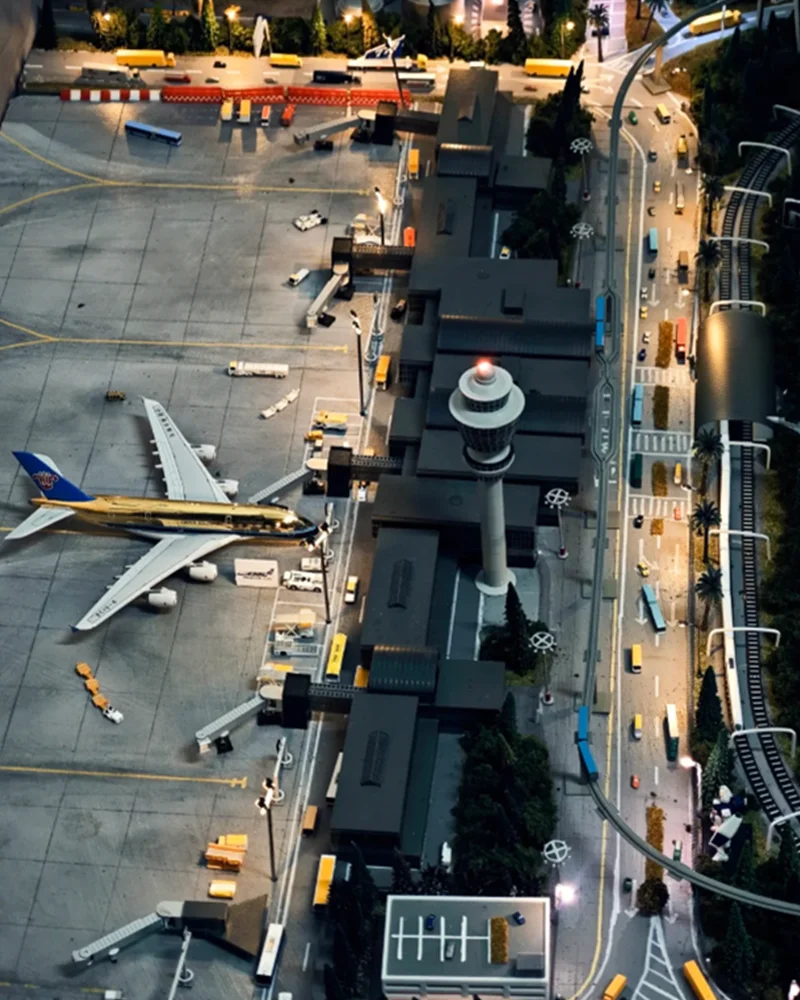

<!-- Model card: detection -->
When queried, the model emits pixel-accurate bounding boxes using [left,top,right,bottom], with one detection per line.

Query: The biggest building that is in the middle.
[333,69,594,879]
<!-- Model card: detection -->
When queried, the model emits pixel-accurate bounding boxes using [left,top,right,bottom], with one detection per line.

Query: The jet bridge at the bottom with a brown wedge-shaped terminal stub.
[64,895,269,974]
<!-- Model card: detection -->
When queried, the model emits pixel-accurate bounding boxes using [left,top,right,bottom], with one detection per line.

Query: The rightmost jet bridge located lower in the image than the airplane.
[189,671,362,756]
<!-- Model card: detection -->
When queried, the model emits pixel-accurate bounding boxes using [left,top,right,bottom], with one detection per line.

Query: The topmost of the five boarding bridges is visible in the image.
[289,102,444,149]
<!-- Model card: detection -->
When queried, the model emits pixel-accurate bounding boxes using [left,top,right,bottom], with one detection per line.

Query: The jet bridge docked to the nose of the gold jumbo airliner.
[242,446,406,509]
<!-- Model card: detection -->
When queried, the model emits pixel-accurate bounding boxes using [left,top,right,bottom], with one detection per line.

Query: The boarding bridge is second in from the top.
[302,239,414,332]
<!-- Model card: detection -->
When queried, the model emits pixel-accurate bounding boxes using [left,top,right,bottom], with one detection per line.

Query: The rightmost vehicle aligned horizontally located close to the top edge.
[688,11,742,37]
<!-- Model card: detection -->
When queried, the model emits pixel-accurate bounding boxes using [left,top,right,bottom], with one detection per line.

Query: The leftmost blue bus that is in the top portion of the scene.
[125,123,185,144]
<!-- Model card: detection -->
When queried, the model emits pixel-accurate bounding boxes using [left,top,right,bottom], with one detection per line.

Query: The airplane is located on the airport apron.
[6,394,317,627]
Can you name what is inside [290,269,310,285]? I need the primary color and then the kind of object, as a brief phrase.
white vehicle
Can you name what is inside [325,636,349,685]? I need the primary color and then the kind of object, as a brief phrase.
yellow bus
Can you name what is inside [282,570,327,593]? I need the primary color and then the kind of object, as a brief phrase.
white truck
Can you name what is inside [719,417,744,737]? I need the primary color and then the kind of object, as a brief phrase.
white train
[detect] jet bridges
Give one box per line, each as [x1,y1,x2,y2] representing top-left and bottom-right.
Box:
[289,102,444,149]
[242,446,406,509]
[302,239,414,332]
[189,671,362,756]
[64,895,269,974]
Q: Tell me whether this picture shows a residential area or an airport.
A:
airport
